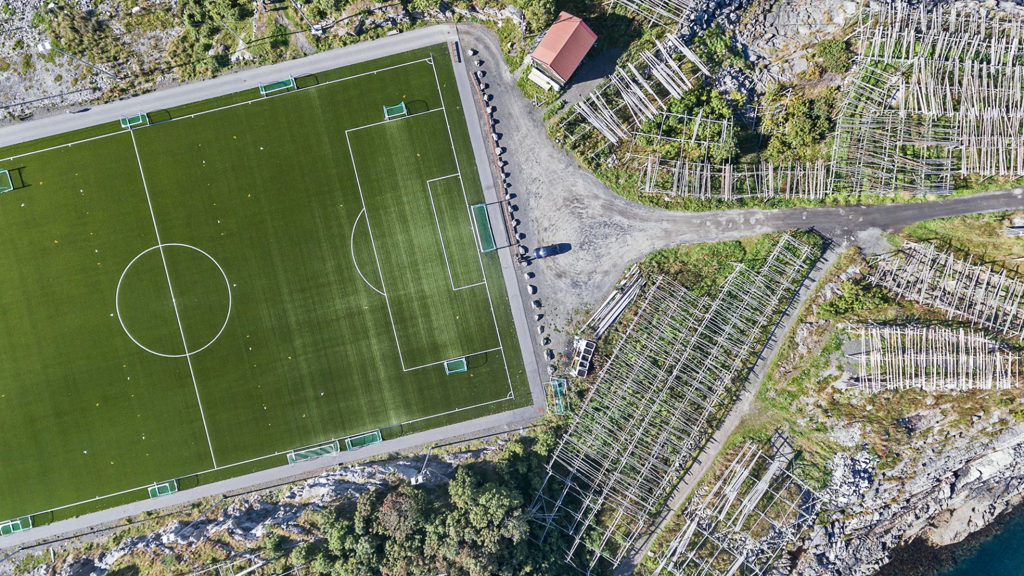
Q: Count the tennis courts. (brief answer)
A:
none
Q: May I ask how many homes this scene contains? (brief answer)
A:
1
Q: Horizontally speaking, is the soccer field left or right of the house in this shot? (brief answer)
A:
to the left of it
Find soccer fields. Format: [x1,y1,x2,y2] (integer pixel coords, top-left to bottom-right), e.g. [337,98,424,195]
[0,43,534,535]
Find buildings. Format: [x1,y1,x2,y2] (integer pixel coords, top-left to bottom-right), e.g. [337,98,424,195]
[530,12,597,84]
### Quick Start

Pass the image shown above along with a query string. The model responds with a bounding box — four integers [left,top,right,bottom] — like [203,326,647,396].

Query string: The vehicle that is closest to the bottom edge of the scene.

[533,243,561,257]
